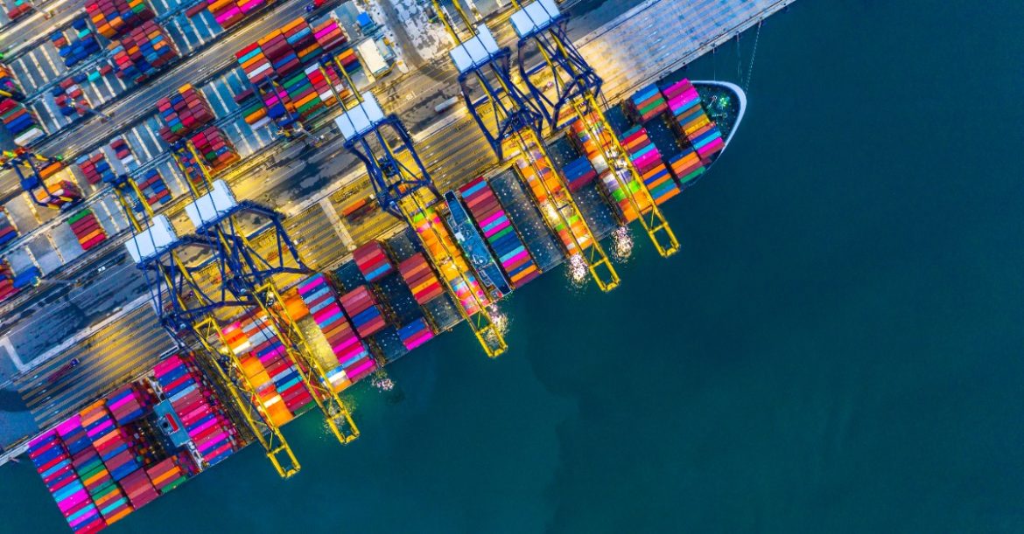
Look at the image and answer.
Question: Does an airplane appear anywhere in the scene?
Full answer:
No, there appears to be no airplane in this shot.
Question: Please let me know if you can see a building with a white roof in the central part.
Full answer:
No, the scene shows no building with a white roof in the central part.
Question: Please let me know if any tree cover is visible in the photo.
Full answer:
No, there is no tree cover in the image.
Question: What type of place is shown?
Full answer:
This image shows a port.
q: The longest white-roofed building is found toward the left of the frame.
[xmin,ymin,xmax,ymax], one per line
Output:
[357,39,390,78]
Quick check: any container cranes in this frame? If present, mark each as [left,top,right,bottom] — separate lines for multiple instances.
[12,152,96,216]
[429,0,623,295]
[251,75,317,143]
[109,165,305,482]
[510,0,683,259]
[166,132,363,448]
[314,45,510,361]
